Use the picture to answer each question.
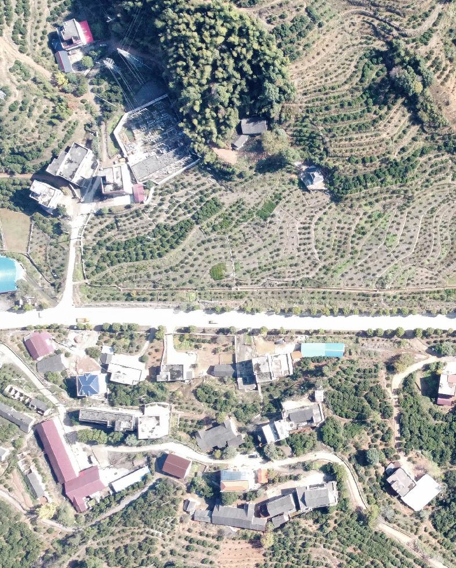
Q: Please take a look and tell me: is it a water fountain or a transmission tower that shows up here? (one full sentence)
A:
I can see a transmission tower in this picture.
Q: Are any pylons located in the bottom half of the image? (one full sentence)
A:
No, no pylon is visible in the bottom half of the image.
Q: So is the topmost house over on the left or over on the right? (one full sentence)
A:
It is on the left.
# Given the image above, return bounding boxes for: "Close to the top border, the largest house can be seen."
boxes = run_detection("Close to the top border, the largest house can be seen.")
[60,20,99,51]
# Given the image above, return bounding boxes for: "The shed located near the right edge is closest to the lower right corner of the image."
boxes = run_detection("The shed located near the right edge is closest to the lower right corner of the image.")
[401,473,440,510]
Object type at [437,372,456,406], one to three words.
house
